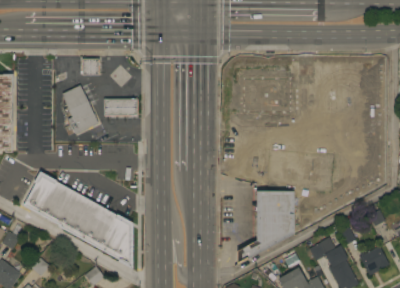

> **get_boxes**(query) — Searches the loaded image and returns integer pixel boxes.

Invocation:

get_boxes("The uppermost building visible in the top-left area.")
[80,58,100,75]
